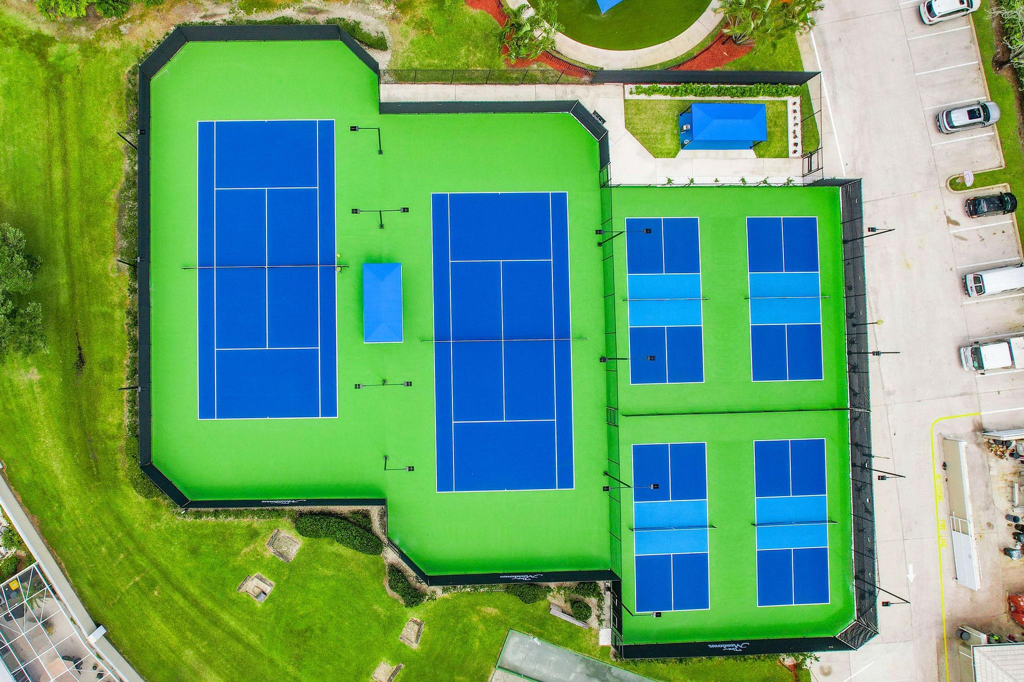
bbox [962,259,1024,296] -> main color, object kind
white van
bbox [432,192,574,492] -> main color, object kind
blue tennis court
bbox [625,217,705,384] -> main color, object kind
blue sports court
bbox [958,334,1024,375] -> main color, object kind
white truck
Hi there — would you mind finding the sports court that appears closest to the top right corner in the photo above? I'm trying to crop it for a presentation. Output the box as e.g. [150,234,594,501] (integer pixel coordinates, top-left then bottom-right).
[746,216,824,382]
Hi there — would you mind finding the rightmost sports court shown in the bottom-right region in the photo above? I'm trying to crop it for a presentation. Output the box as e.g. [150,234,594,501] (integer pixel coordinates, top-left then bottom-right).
[753,438,831,607]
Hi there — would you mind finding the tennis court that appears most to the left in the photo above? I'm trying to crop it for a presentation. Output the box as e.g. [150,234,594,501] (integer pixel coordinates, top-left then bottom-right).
[196,119,338,421]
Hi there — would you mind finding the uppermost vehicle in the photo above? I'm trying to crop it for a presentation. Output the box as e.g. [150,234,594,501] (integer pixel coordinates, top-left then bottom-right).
[920,0,979,27]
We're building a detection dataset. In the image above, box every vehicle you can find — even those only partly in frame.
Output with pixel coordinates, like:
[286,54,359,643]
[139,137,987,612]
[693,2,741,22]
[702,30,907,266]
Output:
[920,0,979,27]
[935,100,997,134]
[962,259,1024,296]
[965,186,1017,216]
[958,334,1024,375]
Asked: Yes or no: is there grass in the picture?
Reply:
Yes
